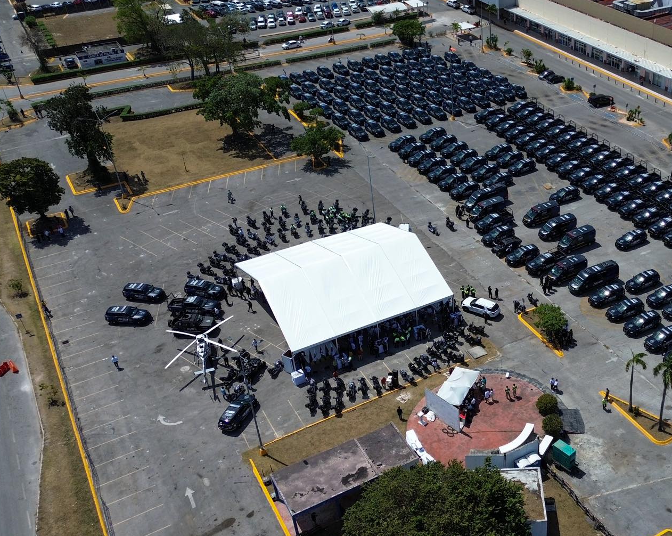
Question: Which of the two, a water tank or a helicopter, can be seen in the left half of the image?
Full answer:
The feature located in the left half of the image is a helicopter.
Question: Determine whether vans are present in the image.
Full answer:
Yes, a van is visible in the scene.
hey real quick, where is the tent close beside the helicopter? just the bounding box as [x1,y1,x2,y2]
[233,221,458,357]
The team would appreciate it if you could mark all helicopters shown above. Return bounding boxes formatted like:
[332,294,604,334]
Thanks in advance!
[162,315,239,386]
